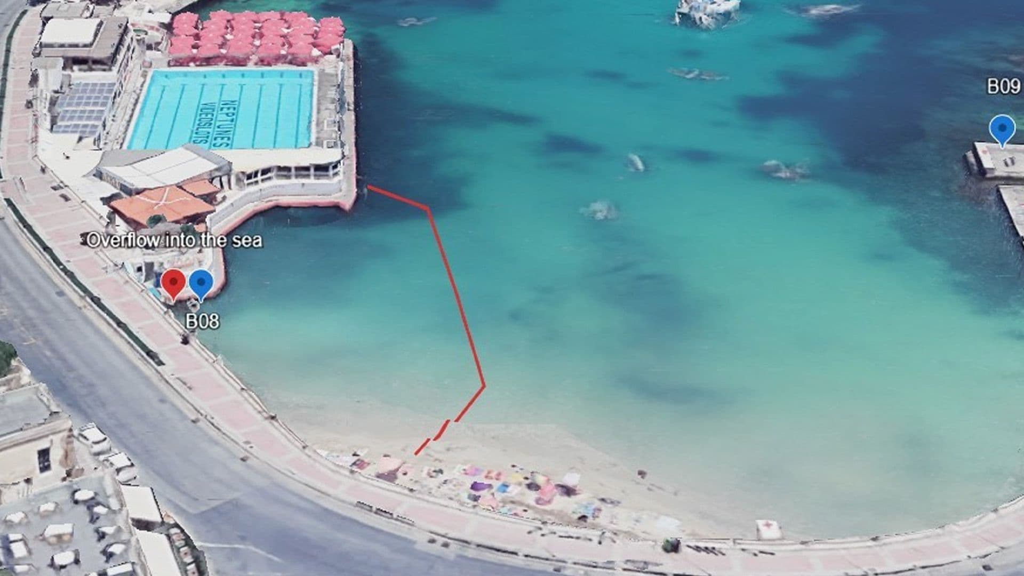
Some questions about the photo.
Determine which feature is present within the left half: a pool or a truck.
pool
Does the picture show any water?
Yes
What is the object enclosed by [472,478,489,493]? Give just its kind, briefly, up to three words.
umbrella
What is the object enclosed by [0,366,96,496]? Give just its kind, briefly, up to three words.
house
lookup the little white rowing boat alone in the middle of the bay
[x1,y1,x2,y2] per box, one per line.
[628,154,648,170]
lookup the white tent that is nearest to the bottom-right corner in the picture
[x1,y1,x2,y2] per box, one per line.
[752,517,782,537]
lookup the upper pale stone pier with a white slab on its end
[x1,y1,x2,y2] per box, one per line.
[961,142,1024,188]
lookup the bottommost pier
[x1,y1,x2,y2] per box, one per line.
[992,187,1024,254]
